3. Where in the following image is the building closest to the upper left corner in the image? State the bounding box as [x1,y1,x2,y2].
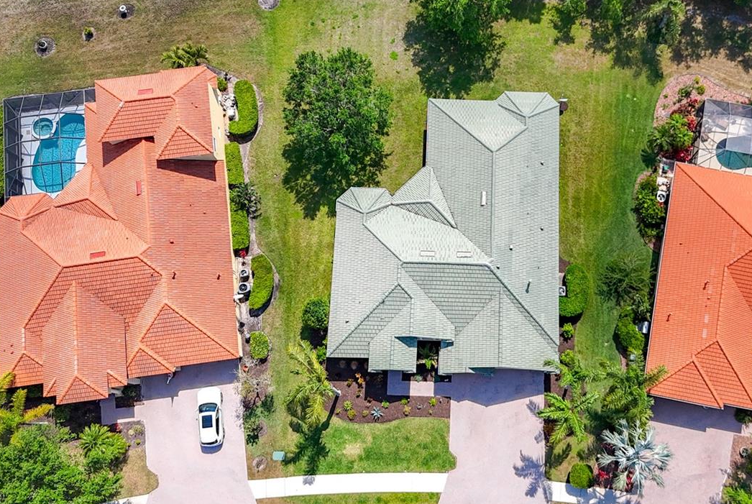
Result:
[0,64,247,407]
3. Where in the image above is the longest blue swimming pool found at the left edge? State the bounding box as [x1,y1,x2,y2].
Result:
[29,111,89,194]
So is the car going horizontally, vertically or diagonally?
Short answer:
vertically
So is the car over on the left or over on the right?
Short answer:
left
